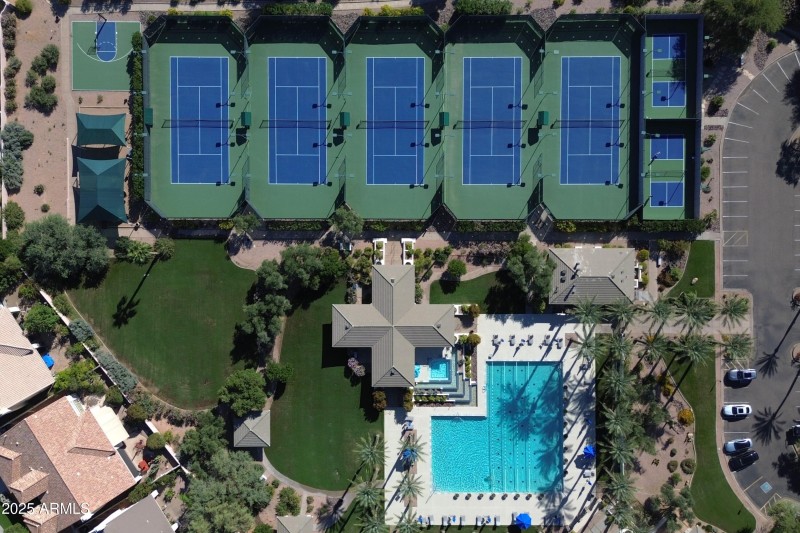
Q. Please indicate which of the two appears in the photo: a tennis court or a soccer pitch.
tennis court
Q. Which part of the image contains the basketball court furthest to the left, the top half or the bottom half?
top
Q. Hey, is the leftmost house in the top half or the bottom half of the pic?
bottom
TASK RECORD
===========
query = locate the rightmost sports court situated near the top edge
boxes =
[648,21,697,115]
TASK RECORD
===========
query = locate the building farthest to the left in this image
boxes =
[0,305,59,416]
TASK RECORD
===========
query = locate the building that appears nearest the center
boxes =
[332,263,455,388]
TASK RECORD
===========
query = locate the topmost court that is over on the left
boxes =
[70,20,141,91]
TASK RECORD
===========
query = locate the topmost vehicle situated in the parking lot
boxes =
[727,368,757,381]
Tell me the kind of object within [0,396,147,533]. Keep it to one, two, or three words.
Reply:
house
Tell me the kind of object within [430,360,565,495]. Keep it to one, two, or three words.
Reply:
swimming pool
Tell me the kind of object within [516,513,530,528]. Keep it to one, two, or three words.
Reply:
umbrella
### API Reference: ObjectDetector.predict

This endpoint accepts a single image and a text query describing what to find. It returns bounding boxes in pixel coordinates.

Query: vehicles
[724,438,752,453]
[723,404,752,417]
[730,451,758,468]
[727,368,757,381]
[788,425,800,436]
